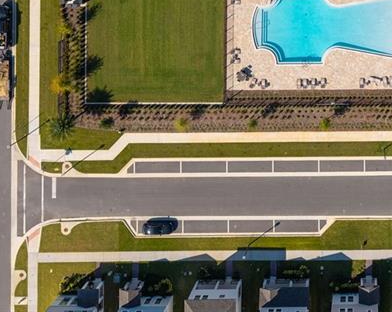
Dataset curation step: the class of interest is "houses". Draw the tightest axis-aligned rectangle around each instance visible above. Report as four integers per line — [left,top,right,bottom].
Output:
[256,278,309,312]
[111,279,169,312]
[38,279,99,312]
[173,278,241,312]
[329,278,380,312]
